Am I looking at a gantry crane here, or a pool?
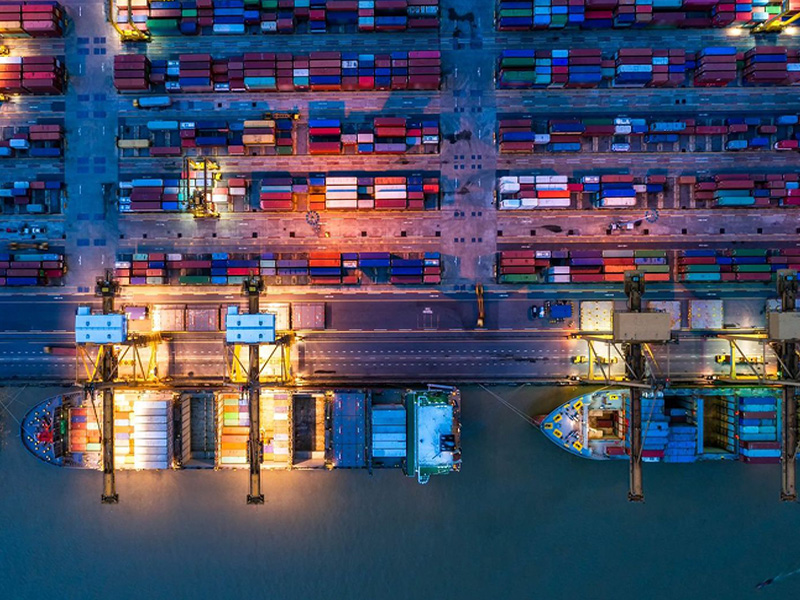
gantry crane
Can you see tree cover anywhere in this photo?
No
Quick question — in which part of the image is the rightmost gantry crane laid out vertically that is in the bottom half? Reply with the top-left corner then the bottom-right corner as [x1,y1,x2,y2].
[715,270,800,500]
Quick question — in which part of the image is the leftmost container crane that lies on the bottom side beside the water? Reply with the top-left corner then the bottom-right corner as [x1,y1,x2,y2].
[74,270,173,505]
